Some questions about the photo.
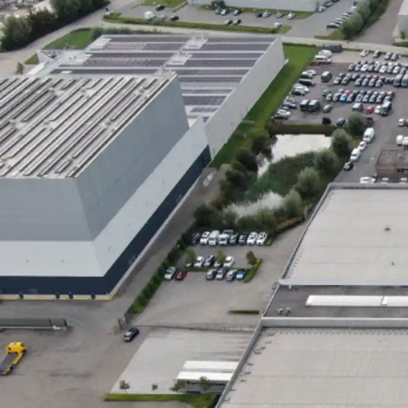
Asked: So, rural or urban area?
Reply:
urban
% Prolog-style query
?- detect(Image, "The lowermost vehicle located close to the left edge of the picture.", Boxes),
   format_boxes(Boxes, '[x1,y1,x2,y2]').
[0,336,23,367]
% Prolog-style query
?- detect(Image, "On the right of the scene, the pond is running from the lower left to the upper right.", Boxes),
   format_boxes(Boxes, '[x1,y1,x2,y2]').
[232,135,333,217]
